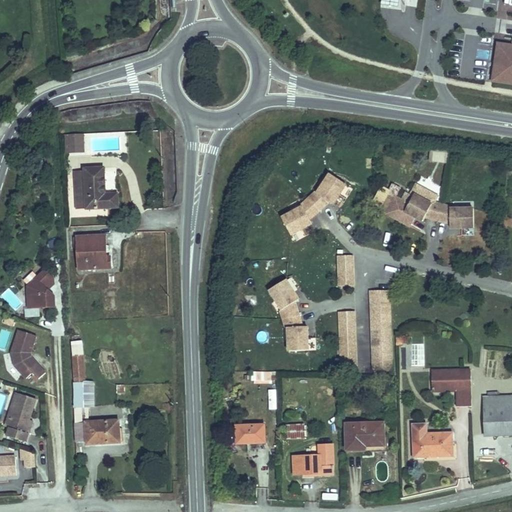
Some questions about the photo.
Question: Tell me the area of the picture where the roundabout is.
top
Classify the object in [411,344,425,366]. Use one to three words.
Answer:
greenhouse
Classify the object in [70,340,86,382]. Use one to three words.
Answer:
building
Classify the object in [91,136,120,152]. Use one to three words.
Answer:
swimming pool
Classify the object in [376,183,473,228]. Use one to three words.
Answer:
house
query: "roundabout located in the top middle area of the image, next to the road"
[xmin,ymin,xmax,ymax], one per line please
[162,22,268,127]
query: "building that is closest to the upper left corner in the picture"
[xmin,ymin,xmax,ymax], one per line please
[65,134,84,152]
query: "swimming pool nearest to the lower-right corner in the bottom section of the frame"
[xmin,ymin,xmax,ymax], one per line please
[376,461,388,482]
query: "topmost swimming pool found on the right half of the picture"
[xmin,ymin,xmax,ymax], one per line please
[430,150,448,163]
